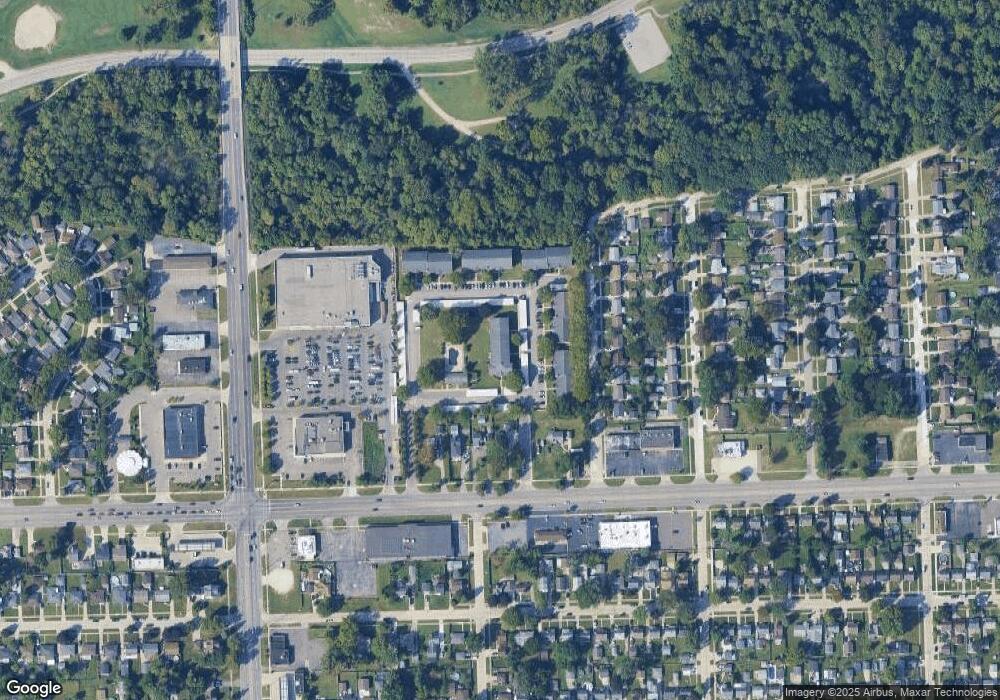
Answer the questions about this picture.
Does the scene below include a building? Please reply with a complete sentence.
Yes, this view includes a building.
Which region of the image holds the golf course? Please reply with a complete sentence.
The golf course is in the top left part of the image.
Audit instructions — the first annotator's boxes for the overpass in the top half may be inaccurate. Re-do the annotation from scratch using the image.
[220,34,242,98]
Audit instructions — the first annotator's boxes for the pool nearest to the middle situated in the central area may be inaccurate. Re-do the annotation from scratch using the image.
[445,343,464,372]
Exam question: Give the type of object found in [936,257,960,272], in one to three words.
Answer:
house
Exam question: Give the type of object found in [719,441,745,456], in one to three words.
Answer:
building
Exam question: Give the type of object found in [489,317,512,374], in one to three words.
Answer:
building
